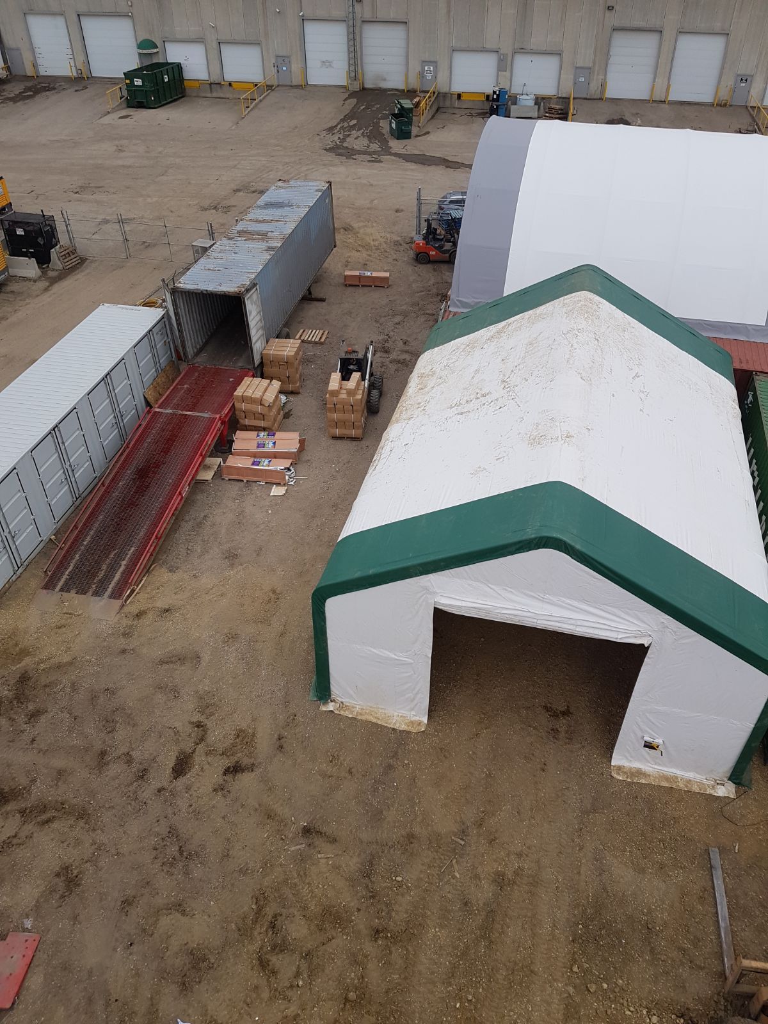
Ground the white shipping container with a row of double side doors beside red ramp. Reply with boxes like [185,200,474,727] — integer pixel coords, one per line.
[0,302,174,585]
